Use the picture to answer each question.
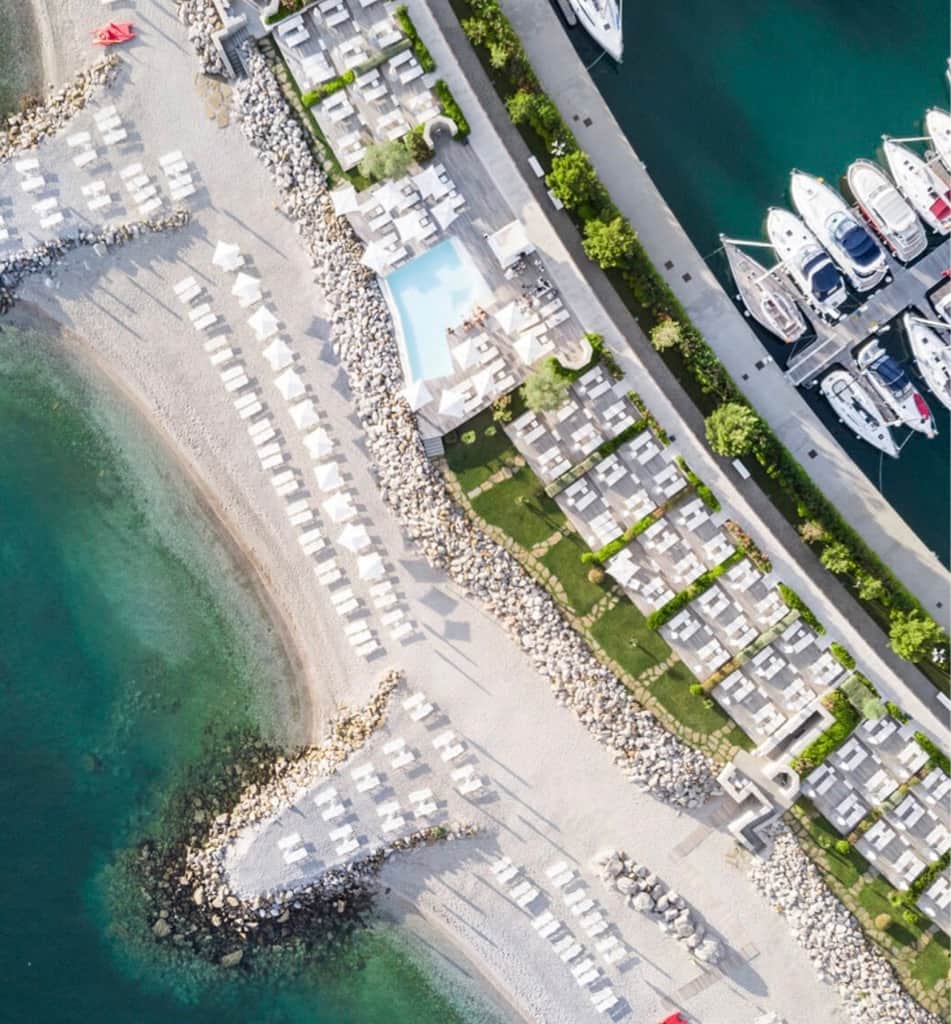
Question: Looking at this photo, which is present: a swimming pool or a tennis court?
swimming pool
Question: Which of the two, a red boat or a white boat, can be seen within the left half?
red boat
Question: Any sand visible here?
Yes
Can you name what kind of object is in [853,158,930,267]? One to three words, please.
boat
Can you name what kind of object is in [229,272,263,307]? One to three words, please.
umbrella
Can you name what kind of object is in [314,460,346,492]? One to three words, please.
umbrella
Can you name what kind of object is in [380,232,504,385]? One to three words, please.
swimming pool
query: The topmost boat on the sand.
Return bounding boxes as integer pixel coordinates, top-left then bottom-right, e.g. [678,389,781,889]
[92,18,135,44]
